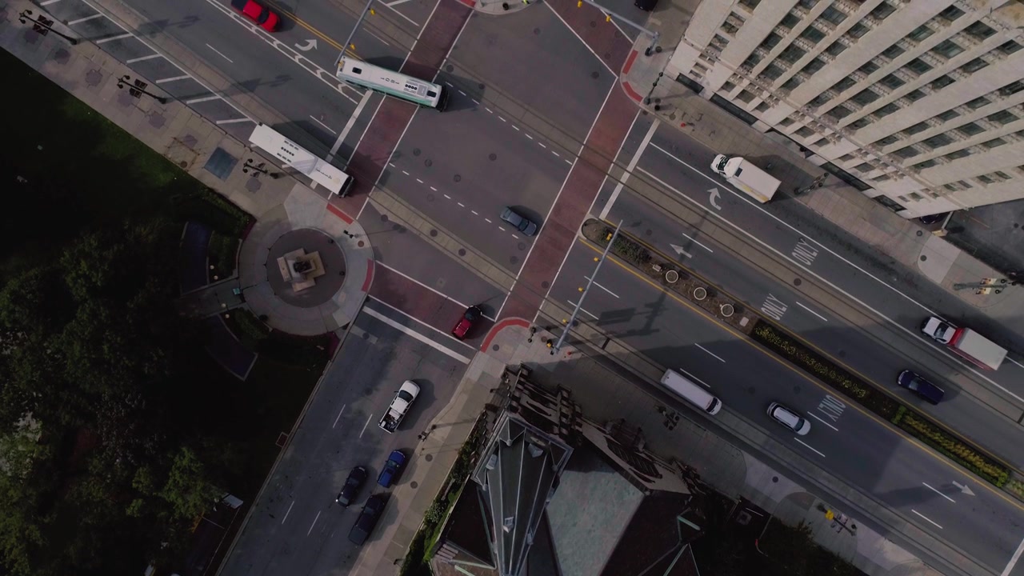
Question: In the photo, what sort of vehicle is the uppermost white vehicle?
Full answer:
I'd say the uppermost white vehicle is a bus.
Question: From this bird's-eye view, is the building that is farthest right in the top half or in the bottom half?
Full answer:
The building that is farthest right sits in the top half of the picture.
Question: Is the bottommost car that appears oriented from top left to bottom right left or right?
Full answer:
It is on the right.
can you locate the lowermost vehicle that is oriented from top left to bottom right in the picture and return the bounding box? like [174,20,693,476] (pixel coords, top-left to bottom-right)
[767,403,812,438]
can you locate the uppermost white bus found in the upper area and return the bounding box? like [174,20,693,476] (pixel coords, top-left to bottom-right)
[334,55,445,110]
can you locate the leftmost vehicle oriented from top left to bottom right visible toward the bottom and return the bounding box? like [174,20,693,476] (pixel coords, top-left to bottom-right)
[661,369,722,414]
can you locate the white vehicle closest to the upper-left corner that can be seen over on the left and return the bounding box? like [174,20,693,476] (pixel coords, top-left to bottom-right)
[247,123,352,196]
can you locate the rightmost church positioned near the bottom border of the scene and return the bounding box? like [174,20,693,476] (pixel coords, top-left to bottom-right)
[410,359,708,576]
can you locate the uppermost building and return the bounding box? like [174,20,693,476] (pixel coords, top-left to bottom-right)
[665,0,1024,220]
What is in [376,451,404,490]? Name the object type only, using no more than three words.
car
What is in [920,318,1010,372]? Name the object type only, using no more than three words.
truck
